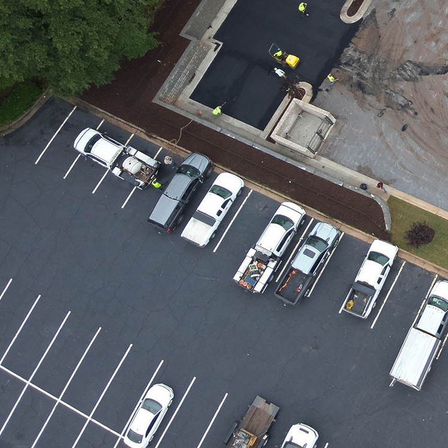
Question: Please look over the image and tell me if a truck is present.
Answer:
Yes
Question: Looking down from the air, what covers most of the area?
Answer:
paved ground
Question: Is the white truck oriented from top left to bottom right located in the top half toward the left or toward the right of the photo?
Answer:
left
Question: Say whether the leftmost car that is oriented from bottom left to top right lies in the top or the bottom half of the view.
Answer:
bottom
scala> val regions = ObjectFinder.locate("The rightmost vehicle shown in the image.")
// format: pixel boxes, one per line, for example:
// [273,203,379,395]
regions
[394,279,448,390]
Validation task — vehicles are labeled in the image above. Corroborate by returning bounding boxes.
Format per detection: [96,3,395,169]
[72,128,162,195]
[344,239,399,323]
[394,279,448,390]
[262,35,304,70]
[283,423,320,448]
[146,152,214,234]
[276,221,341,308]
[121,381,176,448]
[184,173,247,251]
[238,202,307,293]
